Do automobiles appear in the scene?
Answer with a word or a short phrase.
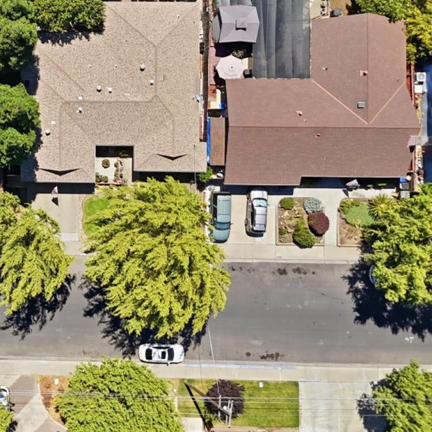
Yes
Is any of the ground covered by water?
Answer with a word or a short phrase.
No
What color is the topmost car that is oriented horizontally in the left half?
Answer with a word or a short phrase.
white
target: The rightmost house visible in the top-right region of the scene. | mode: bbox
[217,12,421,185]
